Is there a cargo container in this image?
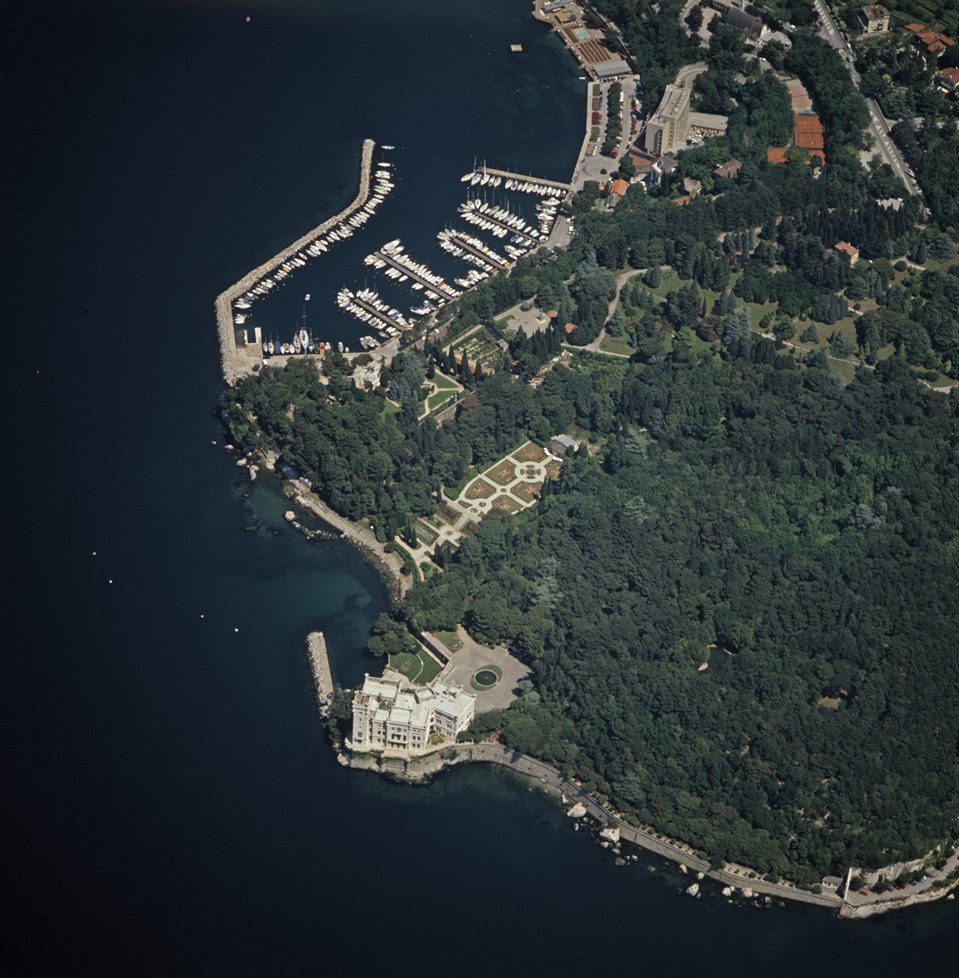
No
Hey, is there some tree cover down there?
Yes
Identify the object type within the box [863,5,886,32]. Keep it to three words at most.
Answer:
house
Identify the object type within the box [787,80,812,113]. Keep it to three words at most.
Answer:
tennis court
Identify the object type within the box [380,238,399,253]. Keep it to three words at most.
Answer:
boat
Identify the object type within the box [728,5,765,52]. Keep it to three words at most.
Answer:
building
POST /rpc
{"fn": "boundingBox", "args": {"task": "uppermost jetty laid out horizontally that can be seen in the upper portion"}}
[477,166,570,188]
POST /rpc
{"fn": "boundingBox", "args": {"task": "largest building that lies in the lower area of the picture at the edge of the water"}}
[350,673,480,755]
